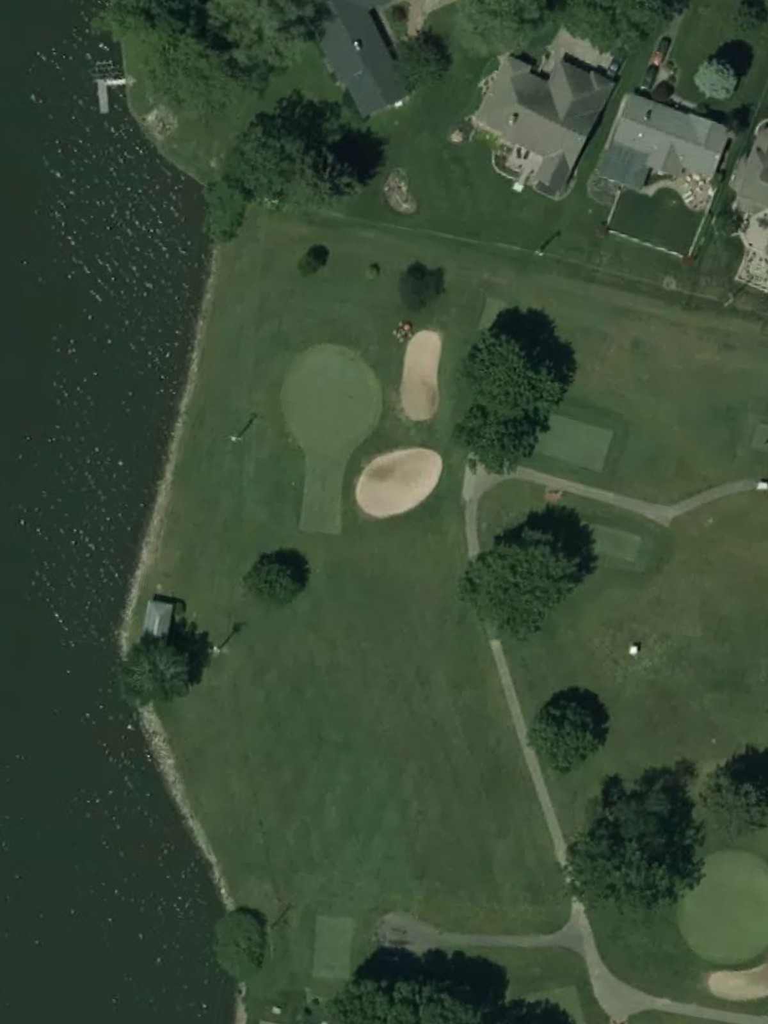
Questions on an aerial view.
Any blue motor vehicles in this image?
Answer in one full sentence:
No, there appears to be no blue motor vehicle in this shot.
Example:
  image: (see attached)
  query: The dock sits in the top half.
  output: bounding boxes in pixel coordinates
[97,78,136,113]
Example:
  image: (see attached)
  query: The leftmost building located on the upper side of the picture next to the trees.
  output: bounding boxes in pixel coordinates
[323,0,408,118]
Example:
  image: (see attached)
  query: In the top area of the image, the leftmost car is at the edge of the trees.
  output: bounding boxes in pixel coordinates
[604,53,621,80]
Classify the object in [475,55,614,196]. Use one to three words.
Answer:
house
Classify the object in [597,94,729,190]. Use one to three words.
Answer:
house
